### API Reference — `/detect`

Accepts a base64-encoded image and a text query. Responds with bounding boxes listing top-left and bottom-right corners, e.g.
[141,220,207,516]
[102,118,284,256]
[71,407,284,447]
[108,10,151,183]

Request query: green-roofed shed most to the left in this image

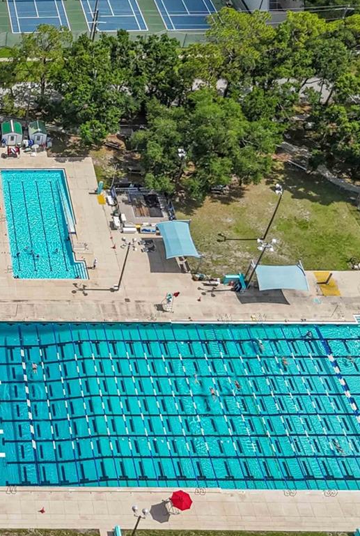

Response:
[1,114,24,145]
